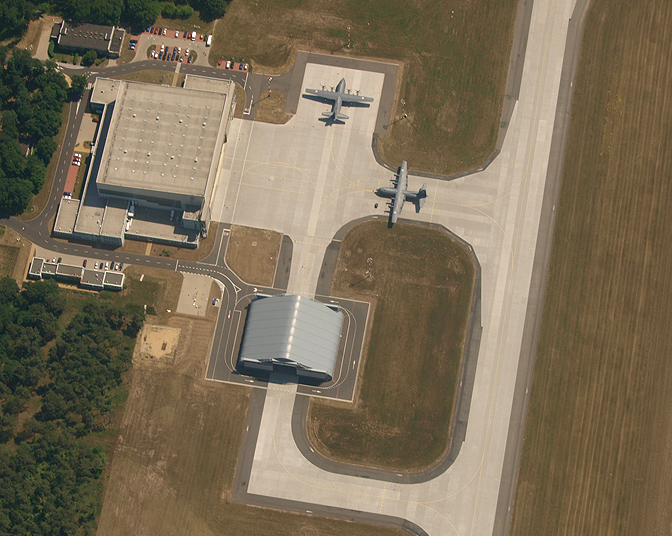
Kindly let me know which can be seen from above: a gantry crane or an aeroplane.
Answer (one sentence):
Visible in the photo is an aeroplane.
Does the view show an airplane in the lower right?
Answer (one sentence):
No, I can find no airplane in the lower right.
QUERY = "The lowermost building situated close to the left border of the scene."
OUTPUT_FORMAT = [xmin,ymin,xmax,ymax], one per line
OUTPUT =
[29,257,126,292]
